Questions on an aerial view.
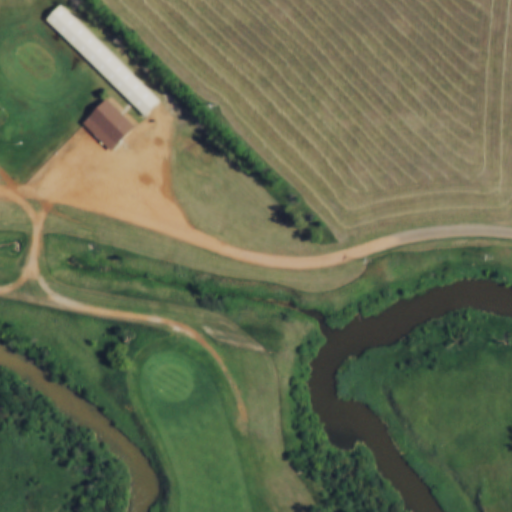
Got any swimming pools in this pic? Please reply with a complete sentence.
No, there's no swimming pool here.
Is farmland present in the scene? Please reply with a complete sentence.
Yes, there is farmland in the image.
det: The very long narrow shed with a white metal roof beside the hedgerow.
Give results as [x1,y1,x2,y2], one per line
[46,4,160,116]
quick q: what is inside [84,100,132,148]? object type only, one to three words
barn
